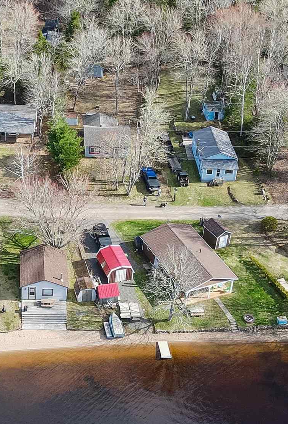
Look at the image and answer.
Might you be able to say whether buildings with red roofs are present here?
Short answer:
Yes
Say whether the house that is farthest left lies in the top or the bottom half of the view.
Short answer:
top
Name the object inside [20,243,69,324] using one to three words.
building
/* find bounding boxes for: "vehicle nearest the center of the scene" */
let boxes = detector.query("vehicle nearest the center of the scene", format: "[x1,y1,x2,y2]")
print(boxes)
[142,171,162,190]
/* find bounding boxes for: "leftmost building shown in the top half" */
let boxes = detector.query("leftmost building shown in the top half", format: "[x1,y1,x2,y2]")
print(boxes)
[0,110,38,143]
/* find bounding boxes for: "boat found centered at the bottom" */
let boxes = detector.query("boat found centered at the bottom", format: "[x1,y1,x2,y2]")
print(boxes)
[108,305,126,337]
